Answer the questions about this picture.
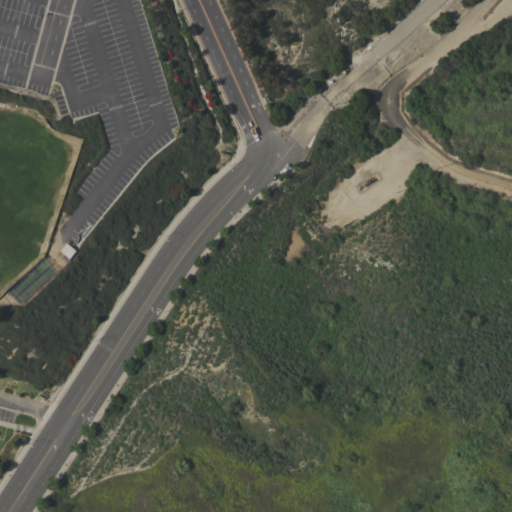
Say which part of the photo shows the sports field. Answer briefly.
left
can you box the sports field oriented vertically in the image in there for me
[0,103,82,302]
